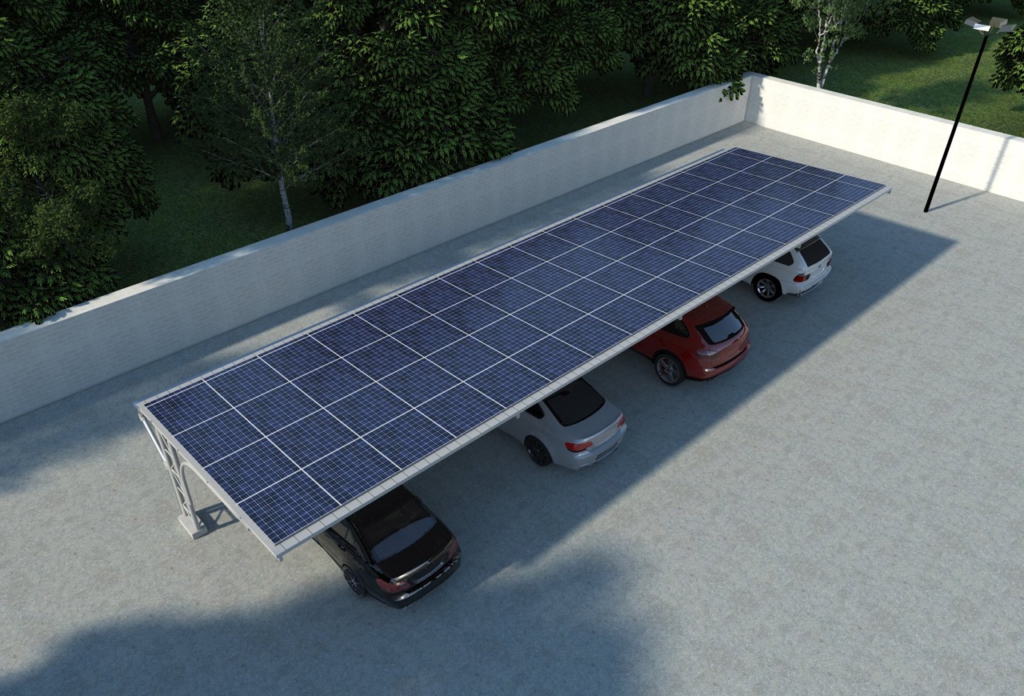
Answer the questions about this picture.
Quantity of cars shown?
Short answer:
4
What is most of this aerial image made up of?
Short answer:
paved ground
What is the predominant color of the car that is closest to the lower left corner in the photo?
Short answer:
black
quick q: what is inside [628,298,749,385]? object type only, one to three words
car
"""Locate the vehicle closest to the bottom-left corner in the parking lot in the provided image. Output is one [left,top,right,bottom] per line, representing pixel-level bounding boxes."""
[315,484,458,604]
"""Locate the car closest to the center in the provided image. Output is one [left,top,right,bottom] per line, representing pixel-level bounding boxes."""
[501,377,625,472]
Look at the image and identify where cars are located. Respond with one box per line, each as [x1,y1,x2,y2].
[501,377,625,472]
[747,234,835,301]
[315,484,458,604]
[628,298,749,385]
